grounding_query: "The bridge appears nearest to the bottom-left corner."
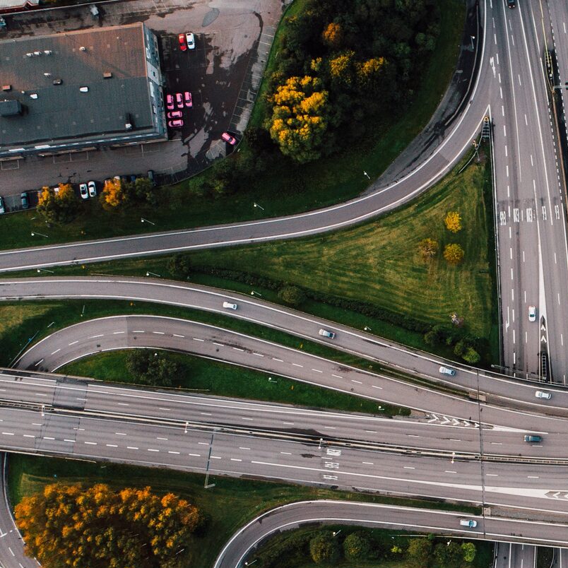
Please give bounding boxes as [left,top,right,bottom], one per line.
[0,365,52,464]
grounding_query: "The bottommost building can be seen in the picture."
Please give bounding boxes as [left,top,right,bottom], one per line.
[0,22,170,161]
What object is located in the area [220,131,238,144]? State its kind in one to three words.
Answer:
vehicle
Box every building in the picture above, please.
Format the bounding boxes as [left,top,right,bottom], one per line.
[0,0,50,14]
[0,22,170,161]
